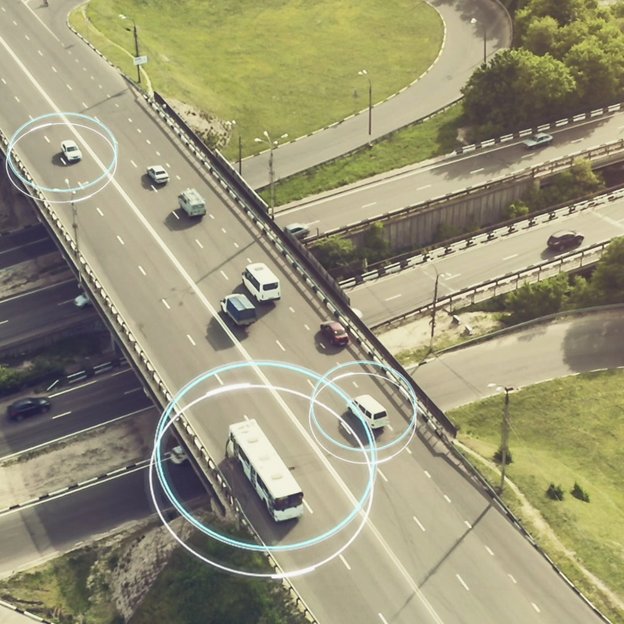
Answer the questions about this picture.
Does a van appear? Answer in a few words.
Yes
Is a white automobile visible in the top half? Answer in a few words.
Yes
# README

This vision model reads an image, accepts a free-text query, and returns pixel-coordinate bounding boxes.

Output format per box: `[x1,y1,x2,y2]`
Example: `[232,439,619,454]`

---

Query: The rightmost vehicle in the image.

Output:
[547,231,584,251]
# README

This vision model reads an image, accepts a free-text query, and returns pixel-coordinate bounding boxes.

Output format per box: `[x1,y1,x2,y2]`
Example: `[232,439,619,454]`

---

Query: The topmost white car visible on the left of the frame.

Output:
[61,142,82,161]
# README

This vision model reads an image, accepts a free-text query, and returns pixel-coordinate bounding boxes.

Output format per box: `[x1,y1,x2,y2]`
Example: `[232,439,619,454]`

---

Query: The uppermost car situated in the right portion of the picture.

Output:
[523,133,554,149]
